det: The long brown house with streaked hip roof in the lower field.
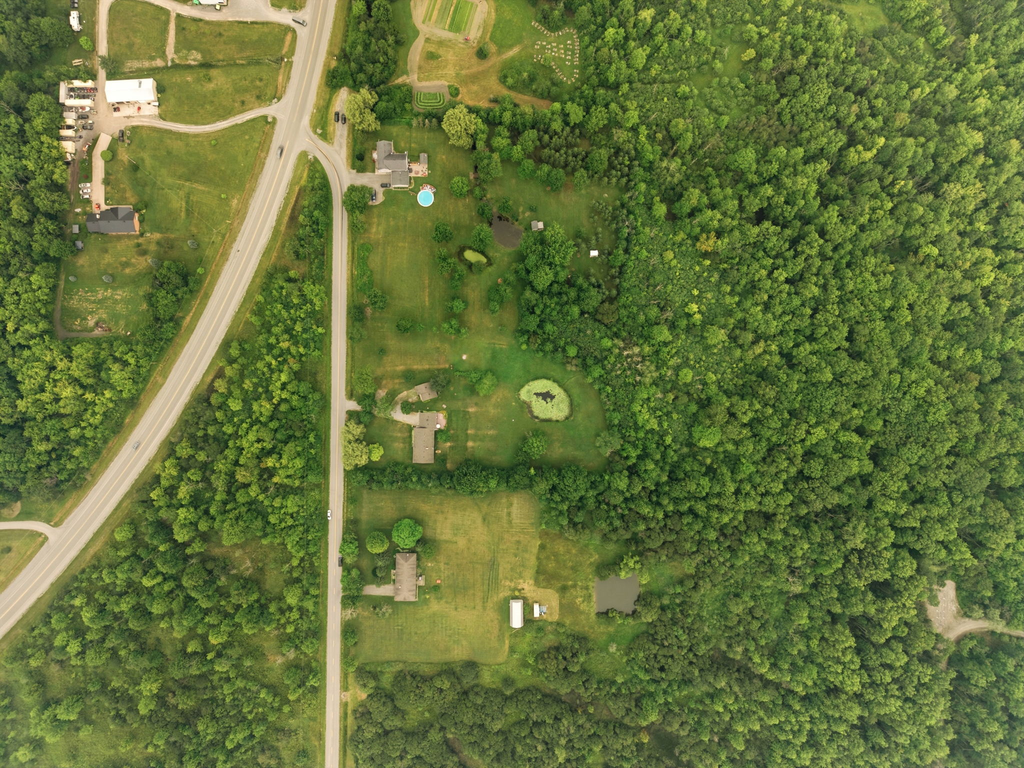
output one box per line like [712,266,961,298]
[392,554,416,602]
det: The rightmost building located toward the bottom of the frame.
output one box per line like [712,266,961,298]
[510,598,523,630]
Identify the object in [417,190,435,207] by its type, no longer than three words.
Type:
swimming pool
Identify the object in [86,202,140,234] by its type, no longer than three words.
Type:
house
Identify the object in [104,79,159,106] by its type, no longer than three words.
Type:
building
